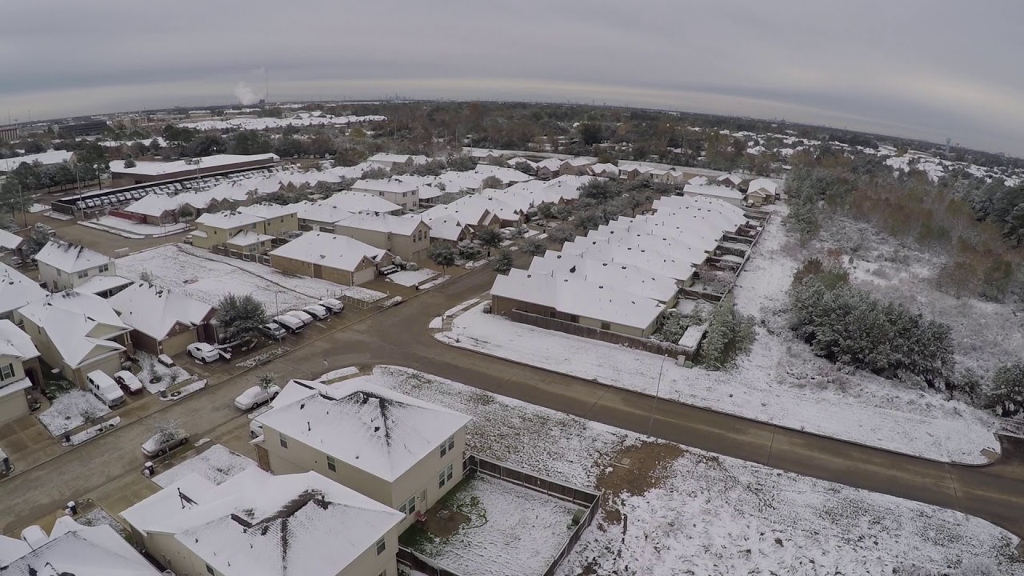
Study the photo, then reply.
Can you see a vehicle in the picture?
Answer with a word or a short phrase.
Yes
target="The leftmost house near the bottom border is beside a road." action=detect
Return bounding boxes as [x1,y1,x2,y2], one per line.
[0,492,160,576]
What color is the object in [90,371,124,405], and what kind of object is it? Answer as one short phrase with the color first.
white vehicle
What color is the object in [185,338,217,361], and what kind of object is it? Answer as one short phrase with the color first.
white car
